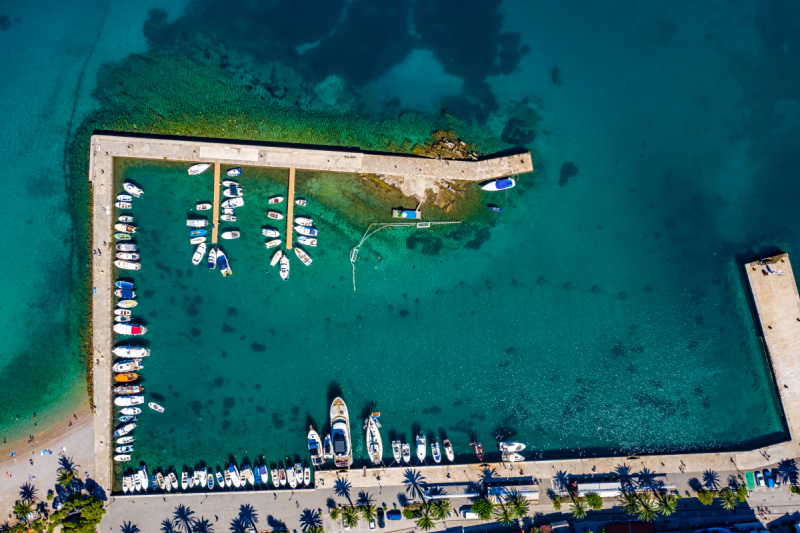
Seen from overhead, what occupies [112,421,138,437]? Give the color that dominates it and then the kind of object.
white boat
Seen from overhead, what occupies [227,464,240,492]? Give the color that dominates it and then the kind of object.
white boat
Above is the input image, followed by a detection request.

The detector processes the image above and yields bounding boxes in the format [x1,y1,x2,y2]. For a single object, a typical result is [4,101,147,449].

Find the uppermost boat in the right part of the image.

[482,177,518,190]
